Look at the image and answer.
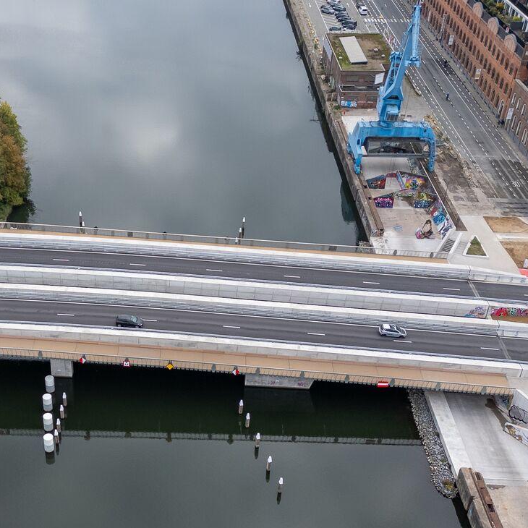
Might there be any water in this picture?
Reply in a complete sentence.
Yes, there is water in the image.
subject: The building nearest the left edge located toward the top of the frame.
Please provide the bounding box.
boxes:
[321,31,387,107]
